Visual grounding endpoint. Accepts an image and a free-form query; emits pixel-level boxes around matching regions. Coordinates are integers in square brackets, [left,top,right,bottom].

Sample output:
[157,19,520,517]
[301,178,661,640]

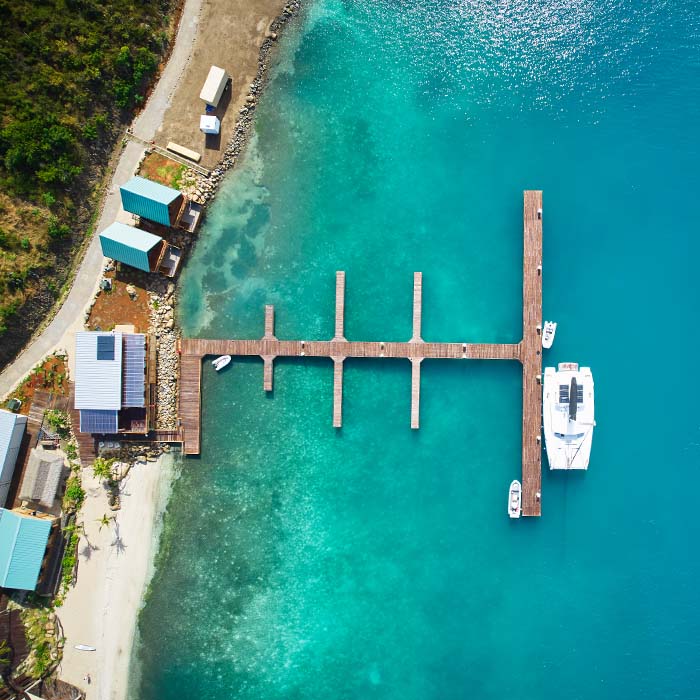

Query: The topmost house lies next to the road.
[120,175,207,234]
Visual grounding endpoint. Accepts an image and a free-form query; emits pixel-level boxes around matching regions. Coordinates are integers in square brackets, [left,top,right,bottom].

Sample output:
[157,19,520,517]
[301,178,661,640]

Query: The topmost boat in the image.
[542,321,558,347]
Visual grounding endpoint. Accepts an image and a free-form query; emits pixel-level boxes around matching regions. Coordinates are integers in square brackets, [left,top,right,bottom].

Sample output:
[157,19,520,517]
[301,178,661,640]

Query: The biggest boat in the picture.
[540,362,596,470]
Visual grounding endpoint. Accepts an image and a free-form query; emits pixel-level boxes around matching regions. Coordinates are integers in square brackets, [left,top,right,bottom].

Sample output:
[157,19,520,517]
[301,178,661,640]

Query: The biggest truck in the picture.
[196,60,228,111]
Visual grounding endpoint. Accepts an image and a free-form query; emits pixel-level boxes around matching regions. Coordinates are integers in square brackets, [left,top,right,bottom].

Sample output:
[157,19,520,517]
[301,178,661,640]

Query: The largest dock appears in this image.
[180,191,543,516]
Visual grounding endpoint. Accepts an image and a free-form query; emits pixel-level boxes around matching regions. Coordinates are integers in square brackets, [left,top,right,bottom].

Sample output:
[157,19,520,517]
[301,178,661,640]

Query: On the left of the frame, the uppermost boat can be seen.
[211,356,230,372]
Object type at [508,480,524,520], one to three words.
boat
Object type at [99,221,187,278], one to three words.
house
